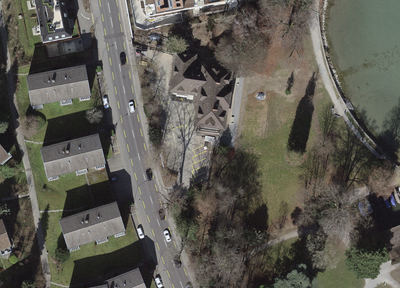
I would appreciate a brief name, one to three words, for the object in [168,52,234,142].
house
